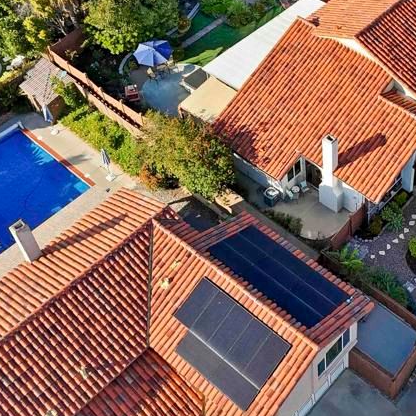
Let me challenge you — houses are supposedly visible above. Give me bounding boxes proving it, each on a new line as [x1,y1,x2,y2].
[211,0,416,220]
[0,185,377,416]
